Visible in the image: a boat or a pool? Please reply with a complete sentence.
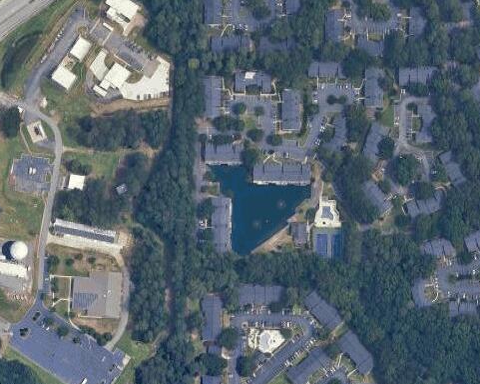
The one in the frame is a pool.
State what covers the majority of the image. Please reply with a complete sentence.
The largest share of the image is taken up by trees.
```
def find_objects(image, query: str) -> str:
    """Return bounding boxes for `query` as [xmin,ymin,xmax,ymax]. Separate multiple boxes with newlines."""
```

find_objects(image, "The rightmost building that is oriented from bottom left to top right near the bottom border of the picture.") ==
[288,351,332,384]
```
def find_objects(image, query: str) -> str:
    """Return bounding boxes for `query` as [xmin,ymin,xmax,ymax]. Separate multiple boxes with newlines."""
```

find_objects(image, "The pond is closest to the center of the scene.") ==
[208,164,309,255]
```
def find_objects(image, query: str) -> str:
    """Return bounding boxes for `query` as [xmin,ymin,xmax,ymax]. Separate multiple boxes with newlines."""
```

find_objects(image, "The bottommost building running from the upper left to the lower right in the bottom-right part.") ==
[337,331,373,373]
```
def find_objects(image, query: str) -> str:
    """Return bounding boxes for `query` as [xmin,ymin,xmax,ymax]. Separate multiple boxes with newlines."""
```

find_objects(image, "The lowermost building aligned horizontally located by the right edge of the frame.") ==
[449,302,478,317]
